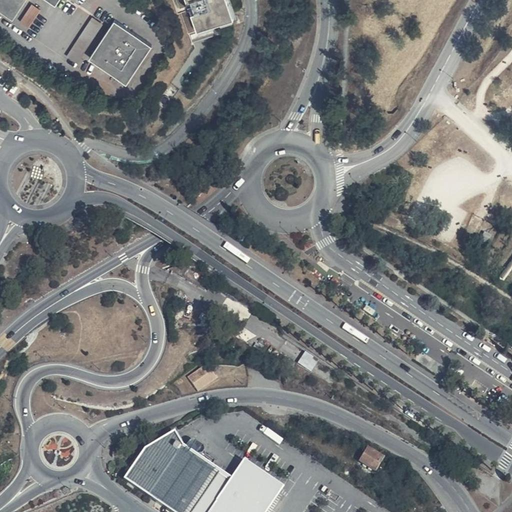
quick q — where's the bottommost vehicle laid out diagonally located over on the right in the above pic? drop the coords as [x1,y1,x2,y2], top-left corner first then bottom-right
[320,486,339,501]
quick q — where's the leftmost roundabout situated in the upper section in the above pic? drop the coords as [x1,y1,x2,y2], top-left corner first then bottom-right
[0,134,84,226]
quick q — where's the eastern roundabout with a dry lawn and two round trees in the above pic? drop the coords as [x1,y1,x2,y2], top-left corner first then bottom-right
[242,136,334,228]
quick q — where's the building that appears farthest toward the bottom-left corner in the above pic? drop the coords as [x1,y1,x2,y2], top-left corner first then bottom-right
[125,429,232,512]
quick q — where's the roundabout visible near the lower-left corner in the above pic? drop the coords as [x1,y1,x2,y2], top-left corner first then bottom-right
[20,414,96,490]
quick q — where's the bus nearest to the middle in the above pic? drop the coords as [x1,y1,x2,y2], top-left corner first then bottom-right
[221,240,252,264]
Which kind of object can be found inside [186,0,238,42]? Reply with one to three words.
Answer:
building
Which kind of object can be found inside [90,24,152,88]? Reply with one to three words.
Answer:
building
